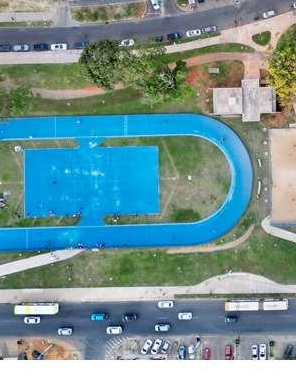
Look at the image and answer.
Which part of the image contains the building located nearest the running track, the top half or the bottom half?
top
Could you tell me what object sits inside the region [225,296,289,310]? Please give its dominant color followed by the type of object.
white vehicle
